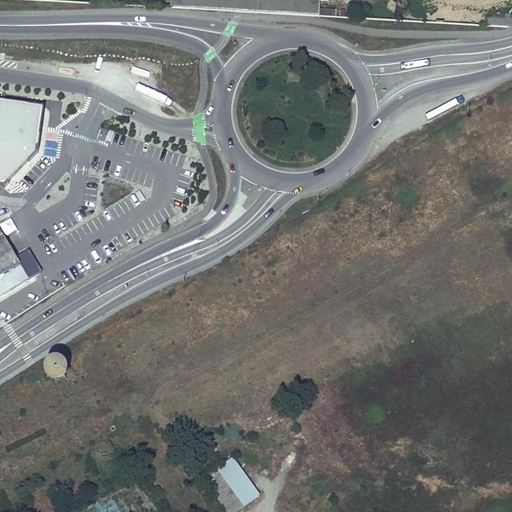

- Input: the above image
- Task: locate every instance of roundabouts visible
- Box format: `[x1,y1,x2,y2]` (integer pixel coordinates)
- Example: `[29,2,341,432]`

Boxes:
[213,29,376,192]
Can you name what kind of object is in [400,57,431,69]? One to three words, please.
vehicle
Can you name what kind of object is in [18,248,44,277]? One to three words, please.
building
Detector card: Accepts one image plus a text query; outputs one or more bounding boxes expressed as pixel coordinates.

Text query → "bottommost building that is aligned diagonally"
[220,458,260,506]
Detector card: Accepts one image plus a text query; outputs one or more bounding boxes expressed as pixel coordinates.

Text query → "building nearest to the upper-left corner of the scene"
[0,98,45,192]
